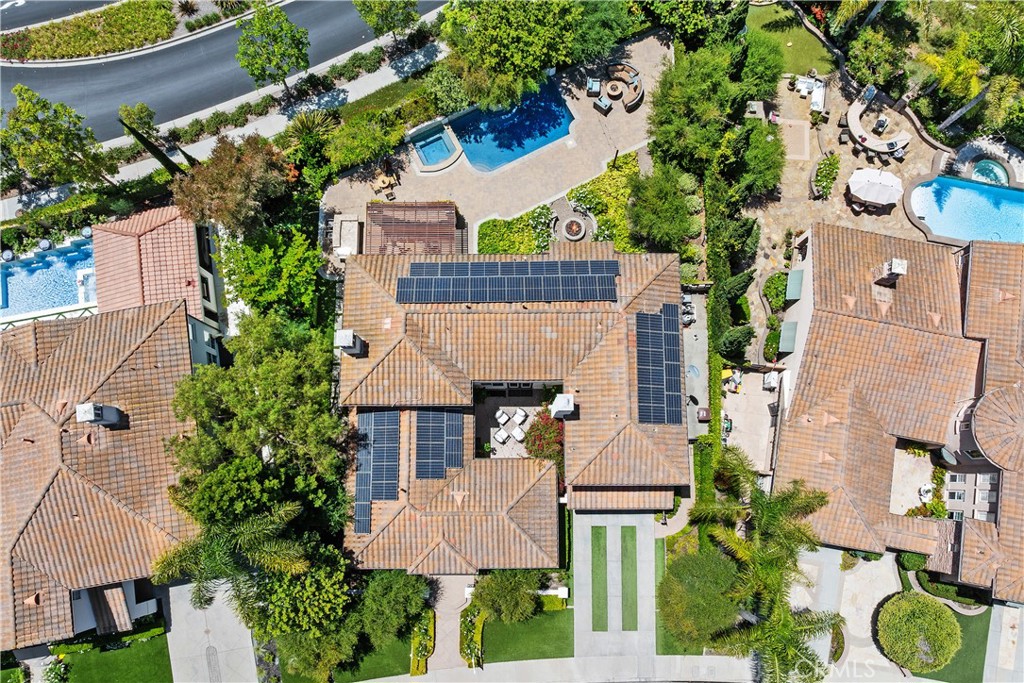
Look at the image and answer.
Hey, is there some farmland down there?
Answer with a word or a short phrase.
No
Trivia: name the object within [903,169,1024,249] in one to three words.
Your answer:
swimming pool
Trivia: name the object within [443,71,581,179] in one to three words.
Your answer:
swimming pool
